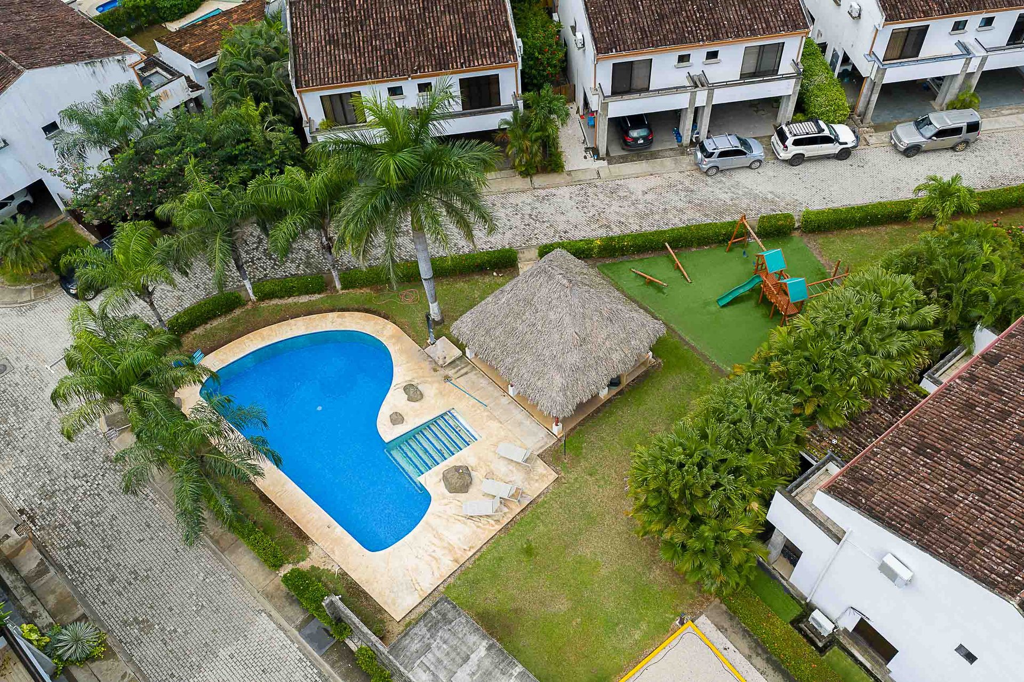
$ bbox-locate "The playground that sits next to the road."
[719,212,857,336]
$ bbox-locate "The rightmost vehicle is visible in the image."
[885,104,984,157]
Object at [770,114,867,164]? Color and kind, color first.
white car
